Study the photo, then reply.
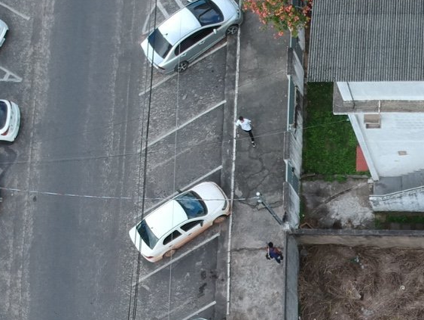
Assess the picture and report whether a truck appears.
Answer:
No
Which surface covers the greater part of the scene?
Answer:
paved ground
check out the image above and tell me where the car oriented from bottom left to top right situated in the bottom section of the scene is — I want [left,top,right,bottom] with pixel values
[127,181,233,262]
